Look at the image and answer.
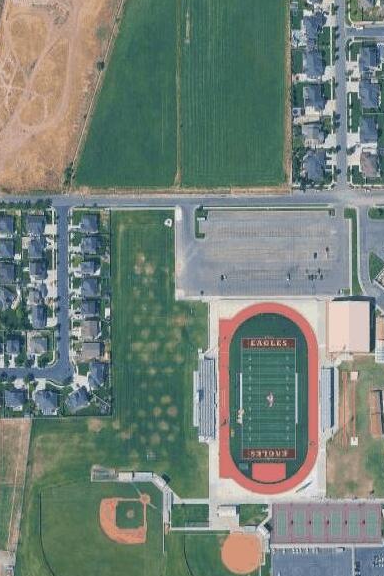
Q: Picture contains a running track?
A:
Yes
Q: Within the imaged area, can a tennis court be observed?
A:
Yes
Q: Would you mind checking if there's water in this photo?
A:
No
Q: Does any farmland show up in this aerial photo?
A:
Yes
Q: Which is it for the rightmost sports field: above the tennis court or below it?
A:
above it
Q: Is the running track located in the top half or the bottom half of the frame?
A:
bottom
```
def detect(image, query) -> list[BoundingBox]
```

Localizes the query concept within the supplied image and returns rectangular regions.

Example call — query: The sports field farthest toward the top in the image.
[230,311,308,485]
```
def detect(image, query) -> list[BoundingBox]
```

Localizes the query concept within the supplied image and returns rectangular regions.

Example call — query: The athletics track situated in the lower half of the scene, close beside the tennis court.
[219,303,318,495]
